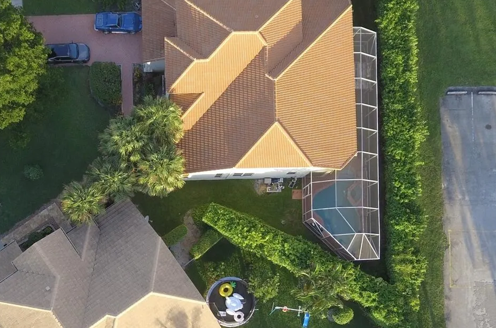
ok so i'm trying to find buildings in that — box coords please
[0,199,224,328]
[142,0,356,178]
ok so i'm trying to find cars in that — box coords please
[38,40,92,66]
[92,9,142,35]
